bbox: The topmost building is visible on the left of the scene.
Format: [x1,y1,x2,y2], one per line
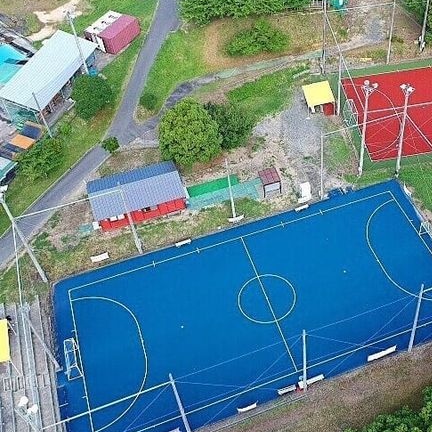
[85,10,141,53]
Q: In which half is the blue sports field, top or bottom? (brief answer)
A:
bottom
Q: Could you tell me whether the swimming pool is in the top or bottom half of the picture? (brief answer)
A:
top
